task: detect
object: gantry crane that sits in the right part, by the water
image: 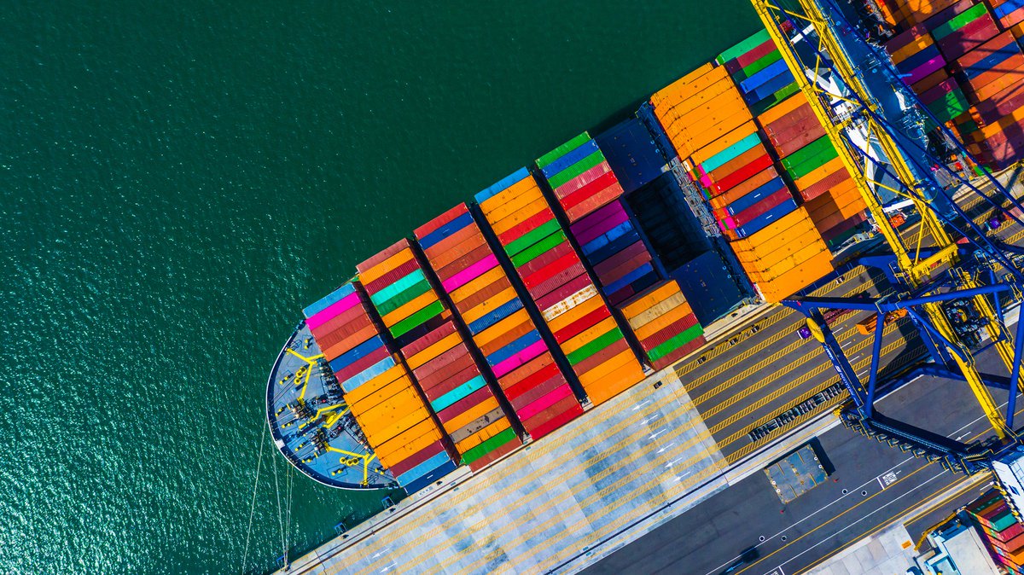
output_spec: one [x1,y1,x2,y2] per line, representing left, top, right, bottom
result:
[745,0,1024,546]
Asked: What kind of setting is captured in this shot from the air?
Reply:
port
